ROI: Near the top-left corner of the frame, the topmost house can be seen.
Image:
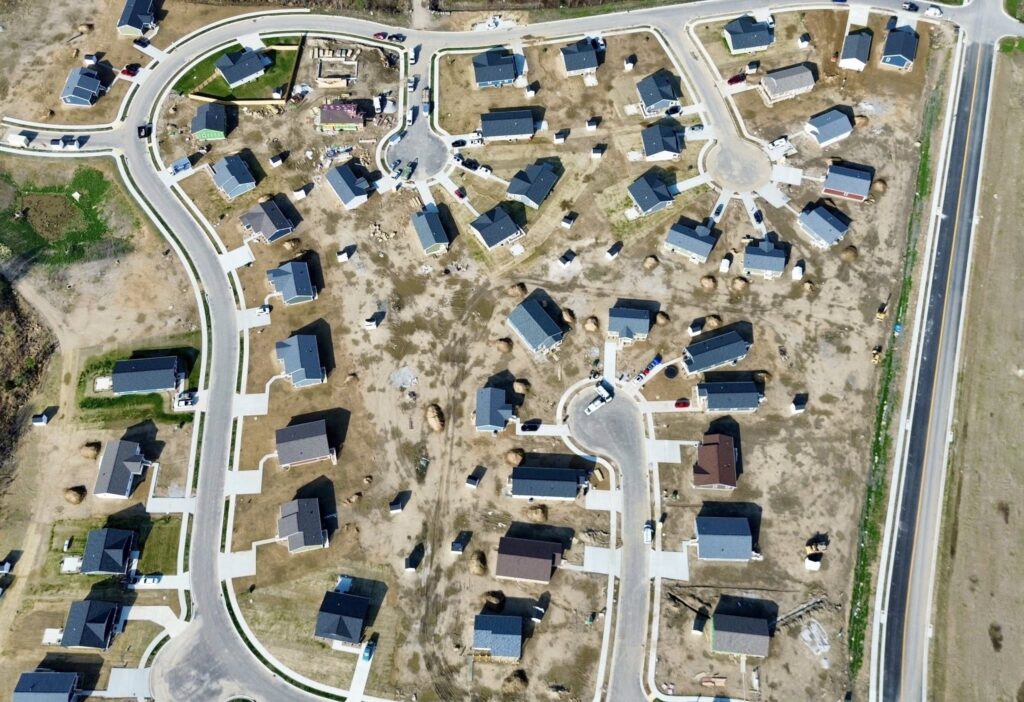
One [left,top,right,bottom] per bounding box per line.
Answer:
[117,0,157,35]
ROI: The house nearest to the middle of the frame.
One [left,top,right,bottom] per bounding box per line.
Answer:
[508,299,563,357]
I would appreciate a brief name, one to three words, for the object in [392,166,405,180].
vehicle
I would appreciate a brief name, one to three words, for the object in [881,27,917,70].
house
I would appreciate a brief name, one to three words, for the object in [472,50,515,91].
house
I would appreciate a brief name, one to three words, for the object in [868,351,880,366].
vehicle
